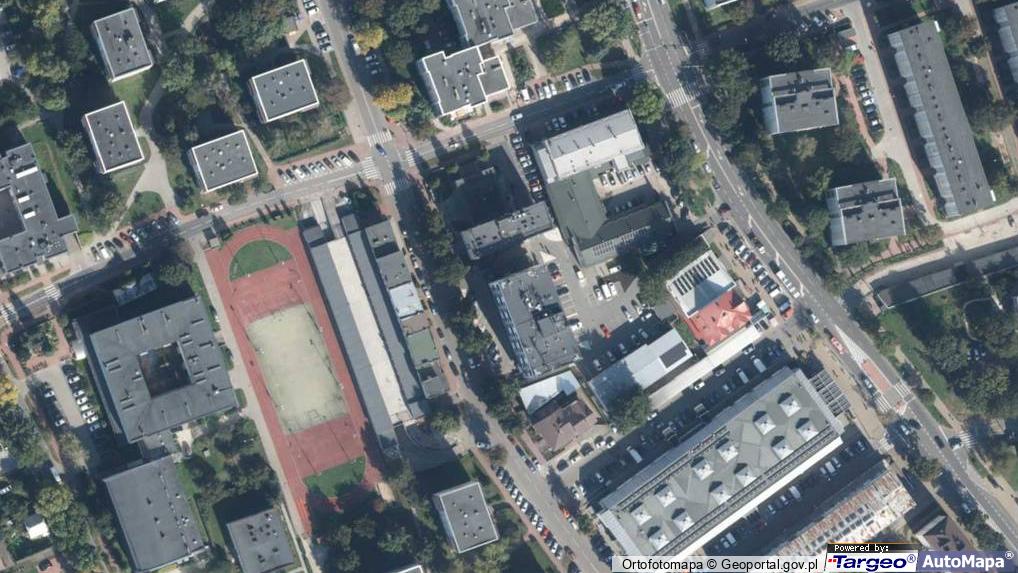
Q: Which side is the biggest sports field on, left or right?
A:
left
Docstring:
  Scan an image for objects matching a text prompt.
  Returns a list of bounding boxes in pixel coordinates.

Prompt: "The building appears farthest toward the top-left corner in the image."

[90,8,152,81]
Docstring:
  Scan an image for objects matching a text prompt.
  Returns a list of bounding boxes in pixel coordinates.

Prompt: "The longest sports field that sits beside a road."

[205,224,383,529]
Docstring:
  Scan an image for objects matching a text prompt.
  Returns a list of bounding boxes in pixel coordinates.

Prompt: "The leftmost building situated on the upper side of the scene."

[0,144,78,275]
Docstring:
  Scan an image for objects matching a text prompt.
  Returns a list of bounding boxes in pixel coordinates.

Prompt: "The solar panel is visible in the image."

[660,342,688,368]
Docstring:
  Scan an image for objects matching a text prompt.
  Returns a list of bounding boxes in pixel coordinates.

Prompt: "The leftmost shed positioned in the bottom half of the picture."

[24,512,49,541]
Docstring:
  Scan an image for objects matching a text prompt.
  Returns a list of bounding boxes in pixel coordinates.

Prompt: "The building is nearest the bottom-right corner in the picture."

[923,525,972,573]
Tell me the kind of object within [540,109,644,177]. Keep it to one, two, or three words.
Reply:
building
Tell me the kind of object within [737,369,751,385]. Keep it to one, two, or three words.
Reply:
vehicle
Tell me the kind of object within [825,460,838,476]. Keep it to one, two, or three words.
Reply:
vehicle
